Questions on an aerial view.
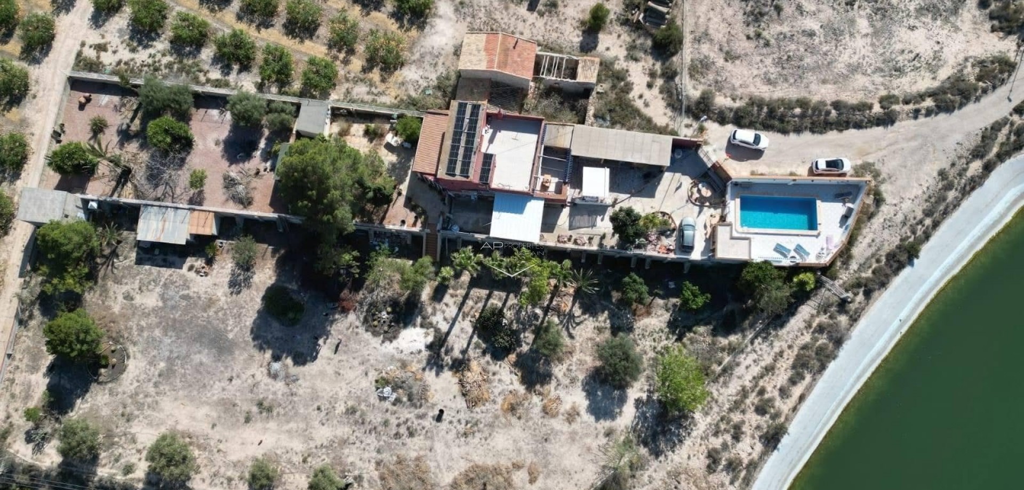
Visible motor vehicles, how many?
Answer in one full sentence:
In total, 3 motor vehicles can be seen.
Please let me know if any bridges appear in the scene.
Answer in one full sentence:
No, there's no bridge here.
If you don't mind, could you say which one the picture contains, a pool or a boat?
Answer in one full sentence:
This aerial view contains a pool.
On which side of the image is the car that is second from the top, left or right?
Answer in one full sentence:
The car that is second from the top sits on the right side.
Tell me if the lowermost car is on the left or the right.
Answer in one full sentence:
The lowermost car appears in the right half of the scene.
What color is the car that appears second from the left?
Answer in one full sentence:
From above, the car that appears second from the left appears white.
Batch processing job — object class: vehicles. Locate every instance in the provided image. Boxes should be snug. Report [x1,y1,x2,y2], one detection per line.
[677,217,697,253]
[811,156,850,176]
[729,130,768,152]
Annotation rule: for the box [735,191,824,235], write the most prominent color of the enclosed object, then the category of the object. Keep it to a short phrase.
blue swimming pool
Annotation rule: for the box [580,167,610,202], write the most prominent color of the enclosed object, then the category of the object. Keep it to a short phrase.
white gazebo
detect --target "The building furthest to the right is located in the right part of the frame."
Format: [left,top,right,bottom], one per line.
[714,223,753,261]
